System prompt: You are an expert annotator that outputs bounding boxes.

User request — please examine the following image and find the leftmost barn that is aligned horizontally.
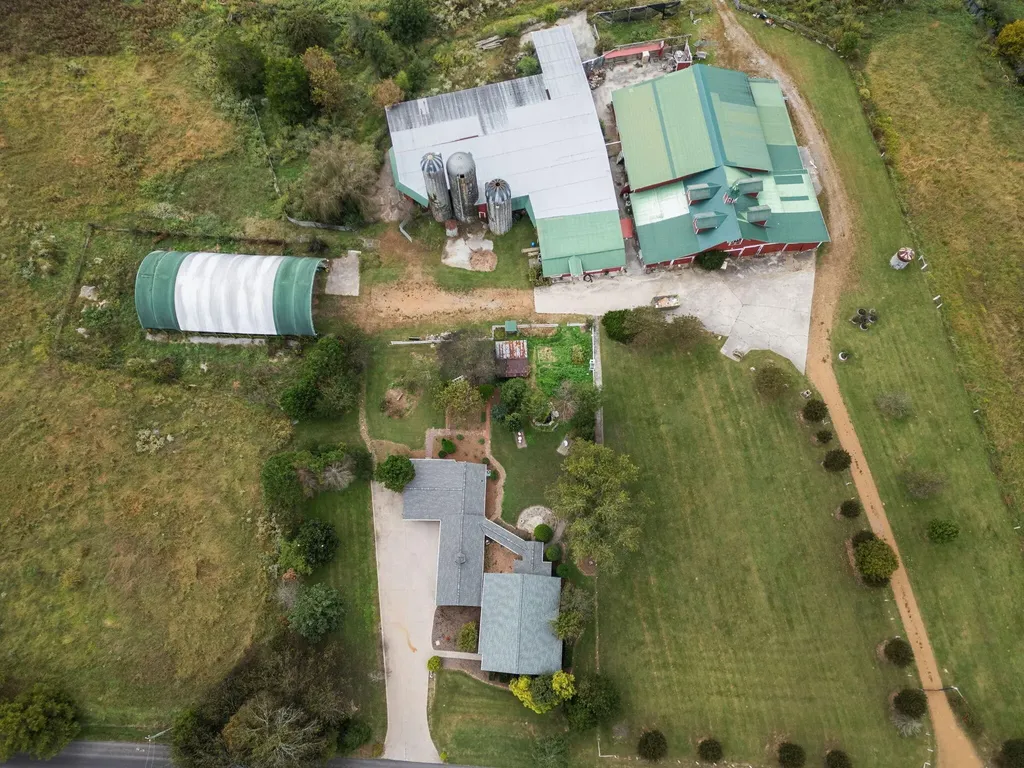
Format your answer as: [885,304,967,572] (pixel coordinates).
[134,250,329,339]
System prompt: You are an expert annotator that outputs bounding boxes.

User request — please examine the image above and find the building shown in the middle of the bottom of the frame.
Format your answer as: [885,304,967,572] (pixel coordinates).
[401,459,563,674]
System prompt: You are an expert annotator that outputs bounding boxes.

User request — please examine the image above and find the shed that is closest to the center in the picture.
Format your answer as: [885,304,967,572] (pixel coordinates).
[494,340,529,381]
